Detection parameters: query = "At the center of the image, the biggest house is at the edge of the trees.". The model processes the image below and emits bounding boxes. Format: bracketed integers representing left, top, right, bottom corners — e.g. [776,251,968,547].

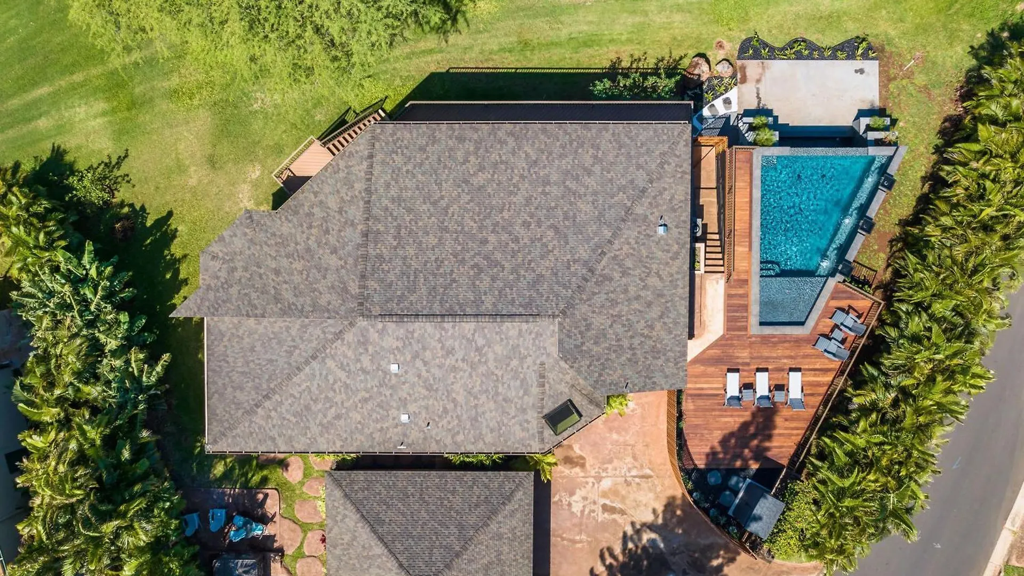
[170,100,694,456]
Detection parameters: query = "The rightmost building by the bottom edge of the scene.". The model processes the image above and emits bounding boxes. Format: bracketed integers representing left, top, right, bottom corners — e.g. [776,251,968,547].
[324,466,535,576]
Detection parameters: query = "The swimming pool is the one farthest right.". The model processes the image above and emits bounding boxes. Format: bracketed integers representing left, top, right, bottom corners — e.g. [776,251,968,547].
[751,137,907,334]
